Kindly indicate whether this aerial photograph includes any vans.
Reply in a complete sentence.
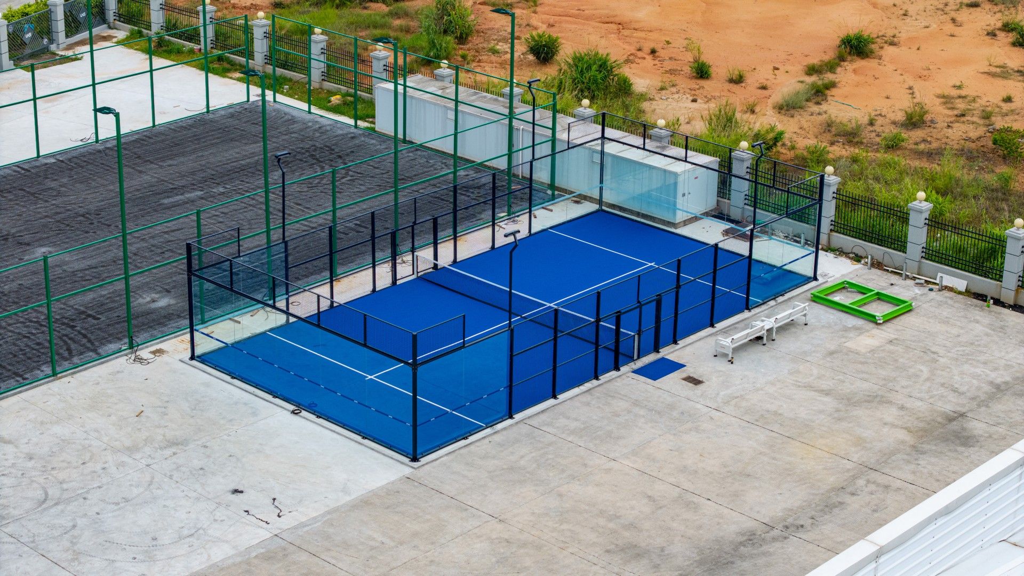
No, this view has no van in it.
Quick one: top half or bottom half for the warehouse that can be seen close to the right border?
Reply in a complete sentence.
The bottom half of the photo is where the warehouse that can be seen close to the right border is.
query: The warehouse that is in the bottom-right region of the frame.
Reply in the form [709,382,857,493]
[803,440,1024,576]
